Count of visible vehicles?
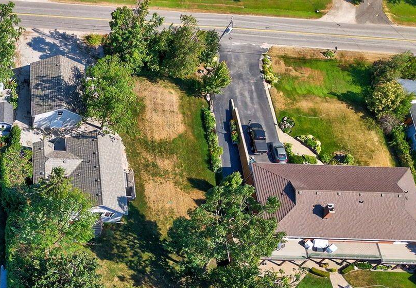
2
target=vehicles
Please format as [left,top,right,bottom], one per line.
[244,124,270,163]
[268,138,291,164]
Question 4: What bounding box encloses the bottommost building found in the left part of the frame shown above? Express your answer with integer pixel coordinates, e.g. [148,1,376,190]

[32,135,137,224]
